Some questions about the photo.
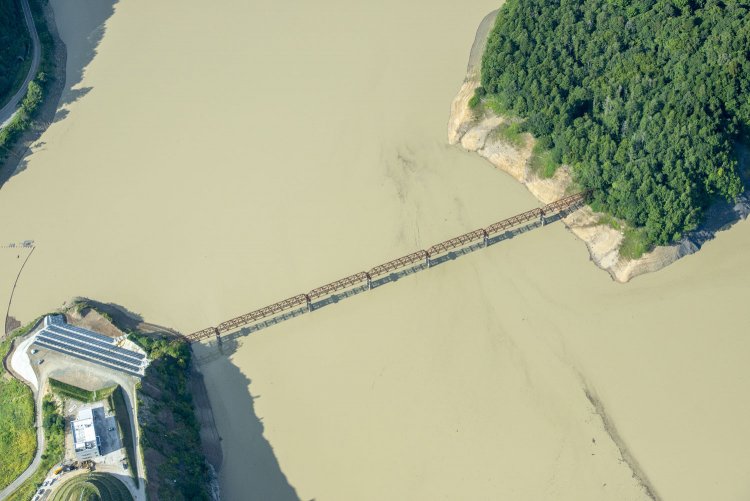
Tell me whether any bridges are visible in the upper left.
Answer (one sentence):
No, there is no bridge in the upper left.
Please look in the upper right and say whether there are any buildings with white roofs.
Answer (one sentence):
No, in the upper right there is no building with a white roof.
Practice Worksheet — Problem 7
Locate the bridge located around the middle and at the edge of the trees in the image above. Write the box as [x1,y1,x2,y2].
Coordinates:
[178,190,591,352]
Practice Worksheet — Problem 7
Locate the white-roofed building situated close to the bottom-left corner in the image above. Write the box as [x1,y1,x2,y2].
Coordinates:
[69,409,103,457]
